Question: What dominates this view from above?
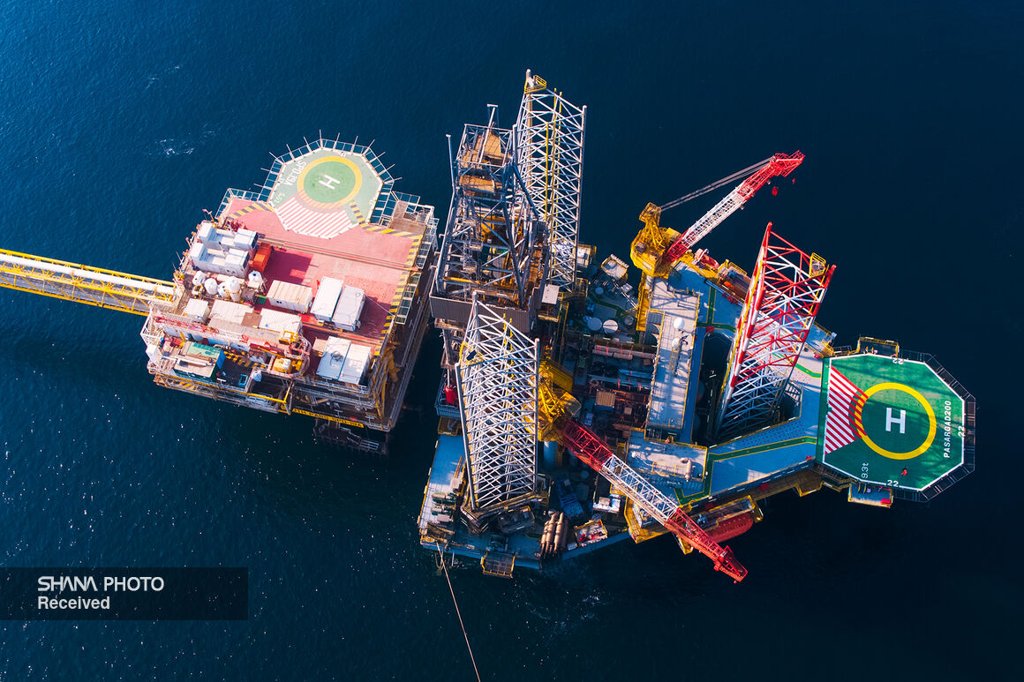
water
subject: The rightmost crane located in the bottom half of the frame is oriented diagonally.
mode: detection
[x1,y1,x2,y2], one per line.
[510,351,749,584]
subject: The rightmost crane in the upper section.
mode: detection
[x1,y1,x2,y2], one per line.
[619,147,807,324]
